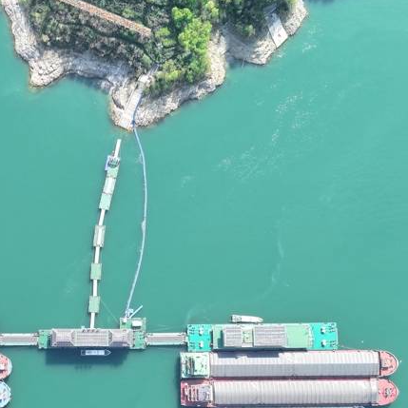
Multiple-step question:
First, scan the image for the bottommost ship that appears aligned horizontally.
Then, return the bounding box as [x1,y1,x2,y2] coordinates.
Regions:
[181,379,399,407]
